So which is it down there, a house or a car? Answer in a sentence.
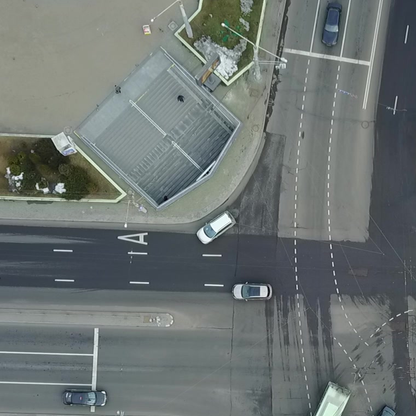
The one in the frame is a car.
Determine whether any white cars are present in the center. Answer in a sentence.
Yes, a white car can be seen in the center.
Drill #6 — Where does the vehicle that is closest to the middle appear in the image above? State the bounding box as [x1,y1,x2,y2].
[197,211,235,244]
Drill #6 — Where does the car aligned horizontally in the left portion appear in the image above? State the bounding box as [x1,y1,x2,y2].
[63,387,109,408]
